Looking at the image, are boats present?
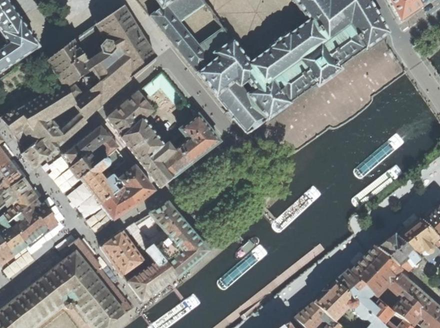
Yes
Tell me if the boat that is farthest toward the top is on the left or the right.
right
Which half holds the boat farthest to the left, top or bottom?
bottom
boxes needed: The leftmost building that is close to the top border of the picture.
[0,0,42,78]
